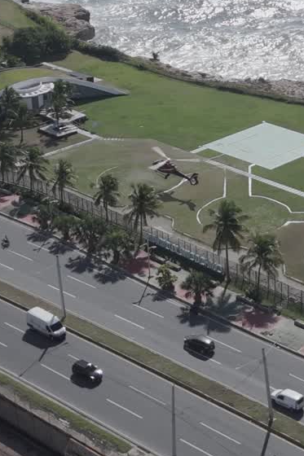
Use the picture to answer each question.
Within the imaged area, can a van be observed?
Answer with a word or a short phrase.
Yes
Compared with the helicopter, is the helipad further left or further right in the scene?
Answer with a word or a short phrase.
to its right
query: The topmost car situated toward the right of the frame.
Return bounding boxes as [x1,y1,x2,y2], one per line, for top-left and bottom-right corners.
[187,331,222,352]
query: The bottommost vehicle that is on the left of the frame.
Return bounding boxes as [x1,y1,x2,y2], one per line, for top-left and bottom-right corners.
[72,353,110,381]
